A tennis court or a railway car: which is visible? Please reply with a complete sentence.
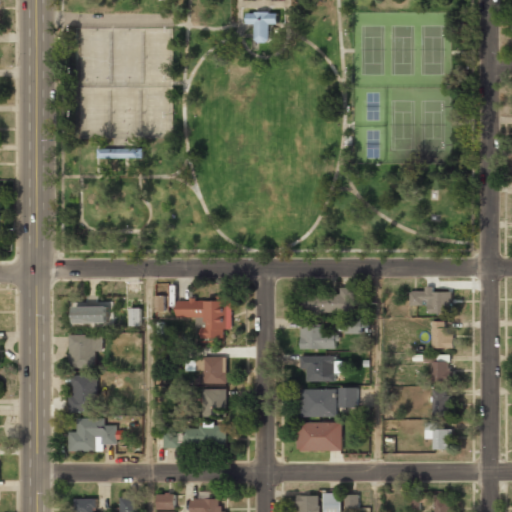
The one in the frame is a tennis court.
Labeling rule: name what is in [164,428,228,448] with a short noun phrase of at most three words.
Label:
house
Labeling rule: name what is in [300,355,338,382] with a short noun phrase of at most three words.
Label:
house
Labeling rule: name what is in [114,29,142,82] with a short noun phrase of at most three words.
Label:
basketball court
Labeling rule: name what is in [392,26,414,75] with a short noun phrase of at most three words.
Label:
tennis court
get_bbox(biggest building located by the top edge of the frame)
[244,11,278,40]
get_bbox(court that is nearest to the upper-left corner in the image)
[84,29,110,82]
